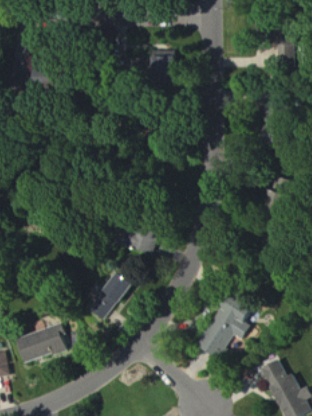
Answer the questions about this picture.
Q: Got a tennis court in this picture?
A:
No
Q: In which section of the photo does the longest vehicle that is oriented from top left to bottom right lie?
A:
bottom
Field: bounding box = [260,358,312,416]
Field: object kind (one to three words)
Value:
house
